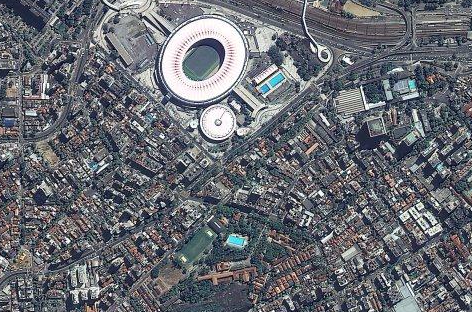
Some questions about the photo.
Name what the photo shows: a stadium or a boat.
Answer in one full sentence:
Of the two, only a stadium appears.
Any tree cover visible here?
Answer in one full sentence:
Yes, tree cover can be seen from above here.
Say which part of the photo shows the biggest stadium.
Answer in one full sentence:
Look in the top portion of the view to spot the biggest stadium.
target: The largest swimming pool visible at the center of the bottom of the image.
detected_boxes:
[227,234,247,248]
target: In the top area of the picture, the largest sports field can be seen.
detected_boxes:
[183,40,224,80]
